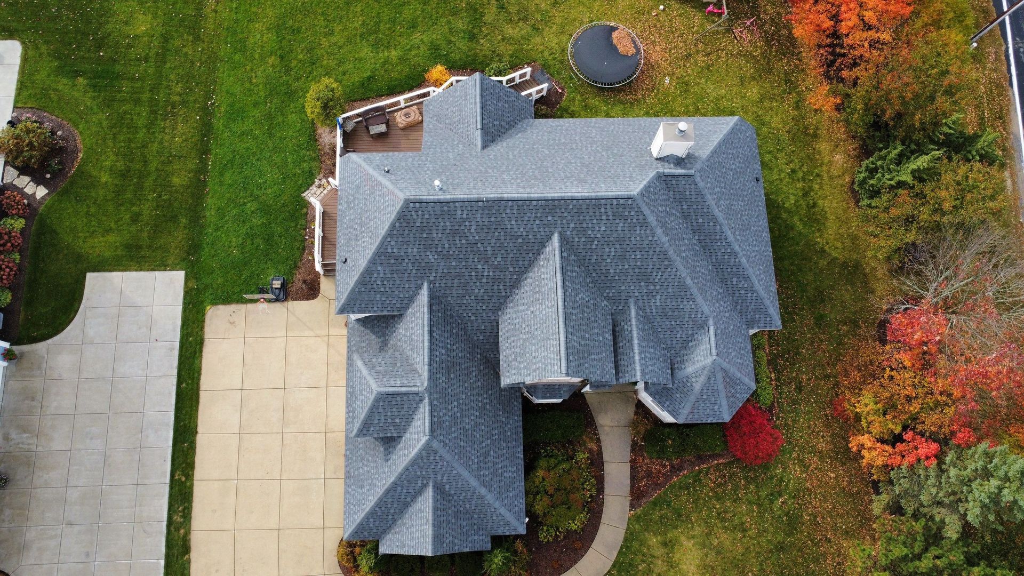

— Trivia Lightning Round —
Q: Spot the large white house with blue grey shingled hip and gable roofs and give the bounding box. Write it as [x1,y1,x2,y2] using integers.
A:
[333,72,782,555]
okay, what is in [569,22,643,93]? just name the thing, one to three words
trampoline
